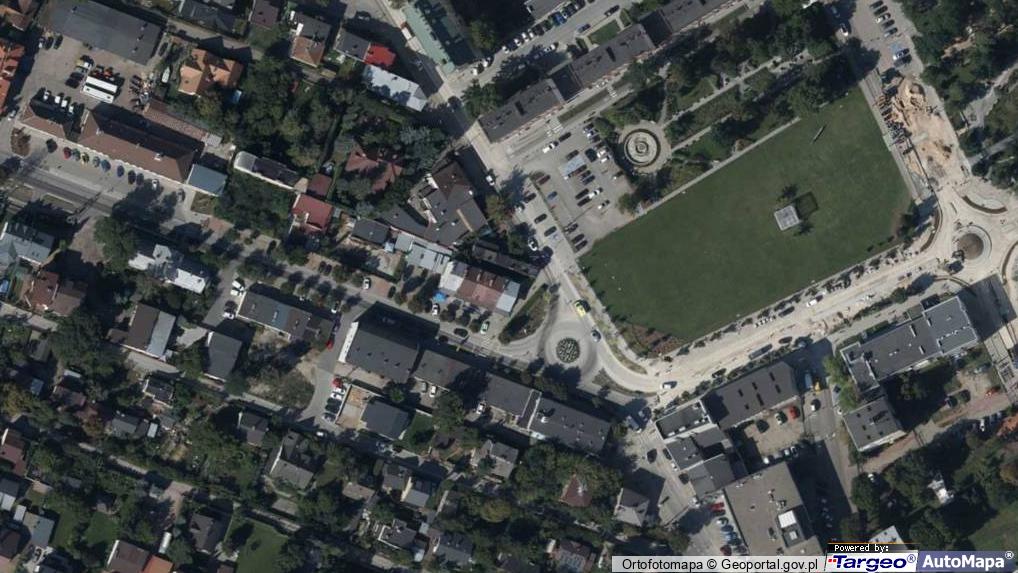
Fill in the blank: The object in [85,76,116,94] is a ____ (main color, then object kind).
white vehicle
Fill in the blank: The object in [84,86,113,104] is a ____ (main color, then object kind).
white vehicle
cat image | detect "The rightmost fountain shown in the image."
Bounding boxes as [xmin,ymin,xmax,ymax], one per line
[623,129,660,166]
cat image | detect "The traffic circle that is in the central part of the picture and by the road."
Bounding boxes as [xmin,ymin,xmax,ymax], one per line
[537,288,598,380]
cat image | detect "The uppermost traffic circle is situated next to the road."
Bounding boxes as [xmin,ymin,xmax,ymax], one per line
[937,212,1005,280]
